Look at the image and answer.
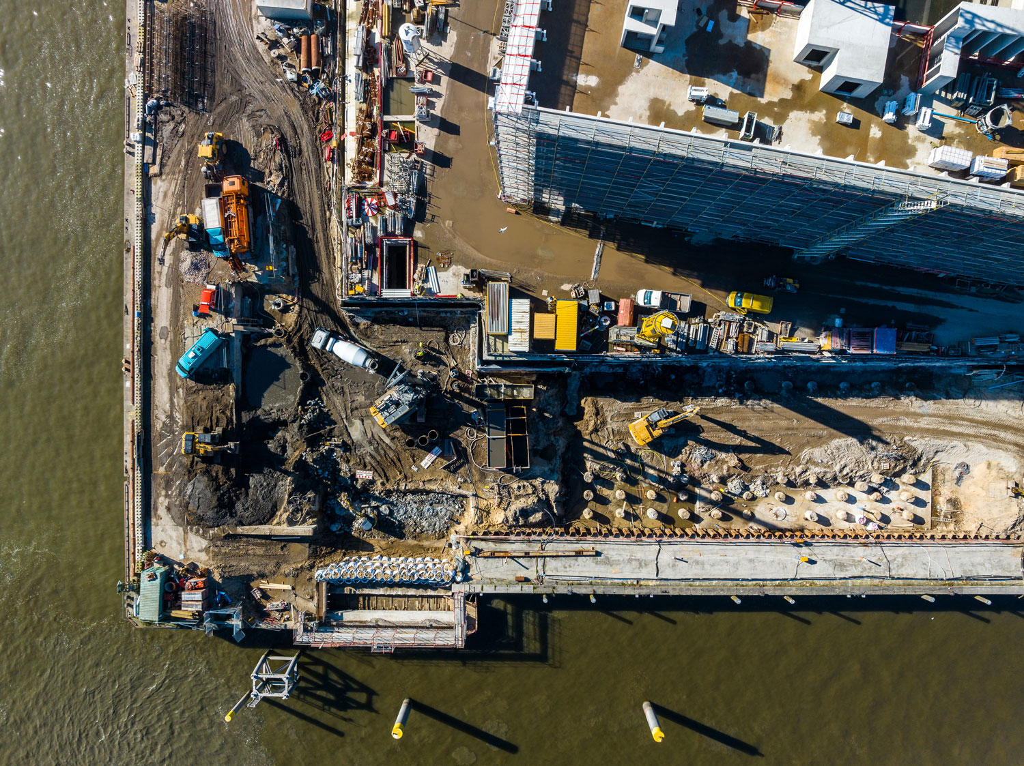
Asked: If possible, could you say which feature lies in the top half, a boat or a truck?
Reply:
truck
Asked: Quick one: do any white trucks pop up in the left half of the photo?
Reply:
Yes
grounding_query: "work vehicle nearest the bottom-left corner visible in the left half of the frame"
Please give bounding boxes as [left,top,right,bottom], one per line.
[169,428,241,464]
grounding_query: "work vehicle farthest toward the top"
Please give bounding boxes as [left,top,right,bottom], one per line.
[193,122,227,192]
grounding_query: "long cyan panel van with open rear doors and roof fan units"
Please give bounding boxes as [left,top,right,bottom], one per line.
[175,329,233,382]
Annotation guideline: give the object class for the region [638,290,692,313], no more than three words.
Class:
truck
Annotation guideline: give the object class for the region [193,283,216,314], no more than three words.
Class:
truck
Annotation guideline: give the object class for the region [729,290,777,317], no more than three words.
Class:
vehicle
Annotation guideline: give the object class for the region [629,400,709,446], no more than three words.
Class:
work vehicle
